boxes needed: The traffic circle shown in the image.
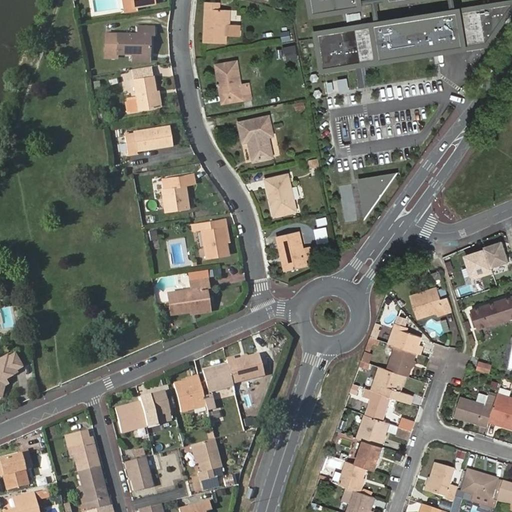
[290,276,370,356]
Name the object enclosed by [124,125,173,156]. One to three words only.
house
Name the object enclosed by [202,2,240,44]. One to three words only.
house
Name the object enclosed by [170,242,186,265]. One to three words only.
swimming pool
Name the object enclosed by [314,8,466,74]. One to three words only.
building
